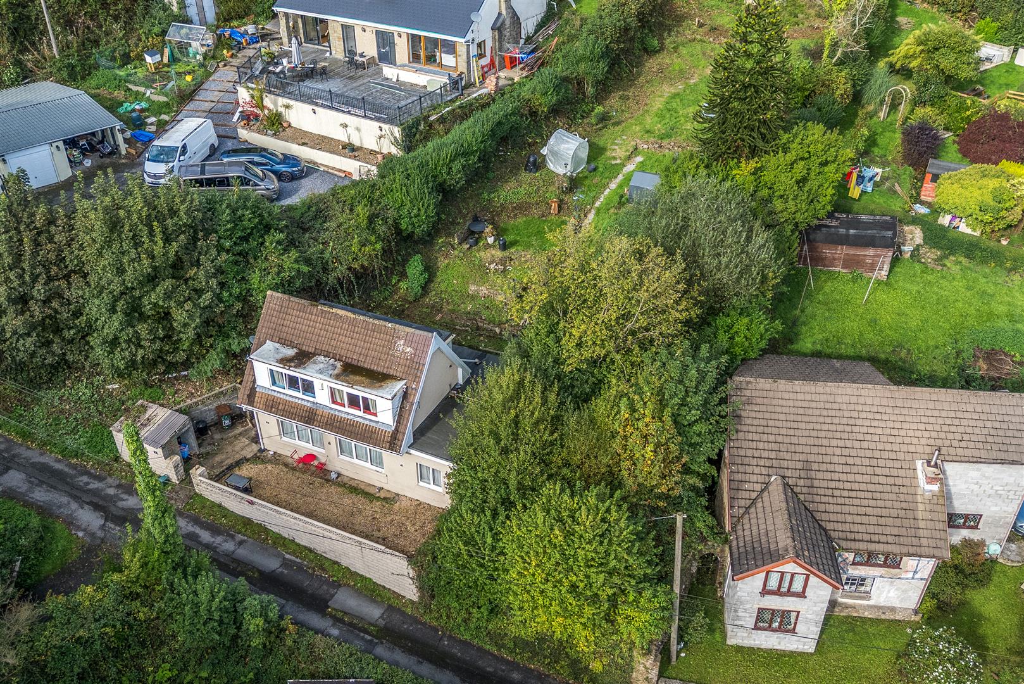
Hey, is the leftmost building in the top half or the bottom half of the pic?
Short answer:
top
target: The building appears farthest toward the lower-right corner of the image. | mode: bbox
[710,354,1024,652]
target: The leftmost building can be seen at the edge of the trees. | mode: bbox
[0,81,125,194]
